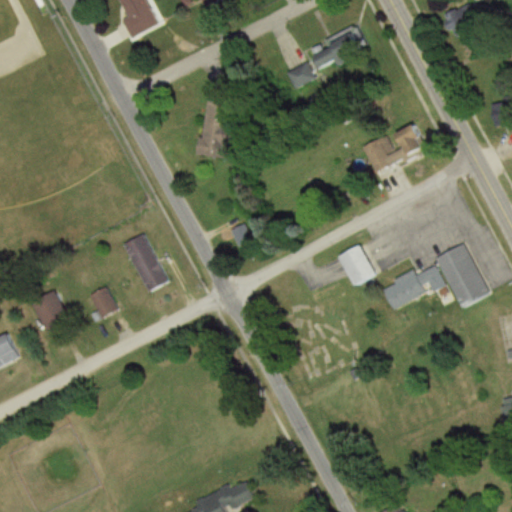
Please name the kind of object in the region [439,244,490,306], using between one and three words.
building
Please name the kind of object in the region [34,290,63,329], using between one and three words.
house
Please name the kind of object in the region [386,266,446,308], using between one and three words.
building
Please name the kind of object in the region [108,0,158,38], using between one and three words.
house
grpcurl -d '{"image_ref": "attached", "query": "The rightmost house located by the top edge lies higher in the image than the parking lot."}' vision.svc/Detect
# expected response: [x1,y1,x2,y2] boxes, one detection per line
[445,2,471,33]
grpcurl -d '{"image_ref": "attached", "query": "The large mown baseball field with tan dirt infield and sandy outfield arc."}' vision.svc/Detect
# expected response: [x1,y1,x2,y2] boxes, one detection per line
[0,0,147,257]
